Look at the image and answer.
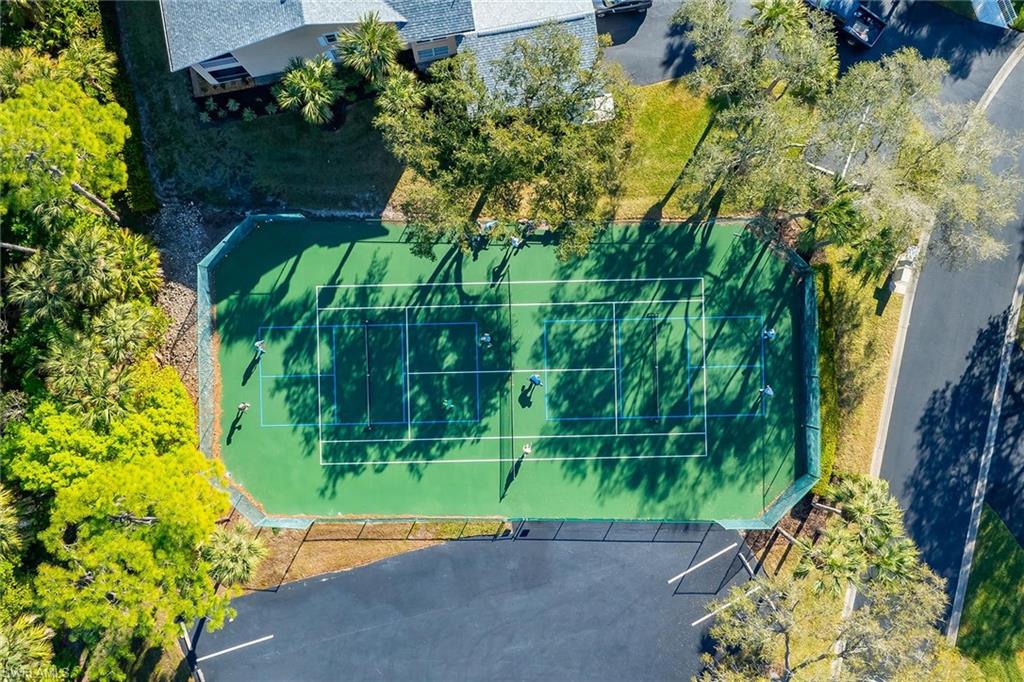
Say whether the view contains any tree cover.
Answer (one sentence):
Yes, tree cover can be seen from above here.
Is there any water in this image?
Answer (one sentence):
No, water can't be seen anywhere here.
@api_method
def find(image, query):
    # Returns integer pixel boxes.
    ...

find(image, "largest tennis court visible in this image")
[220,221,805,518]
